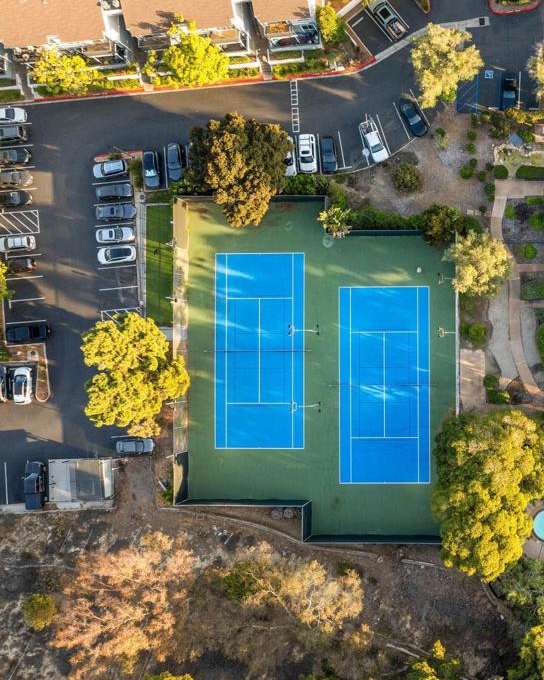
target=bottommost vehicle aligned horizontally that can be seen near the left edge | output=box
[1,322,51,342]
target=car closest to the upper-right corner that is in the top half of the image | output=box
[499,71,518,112]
